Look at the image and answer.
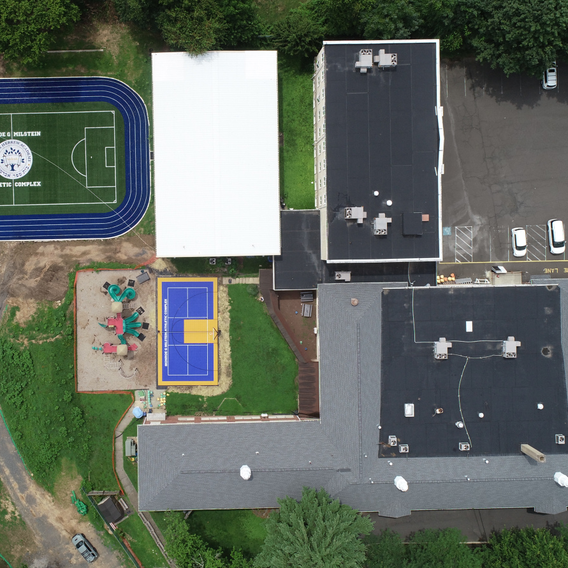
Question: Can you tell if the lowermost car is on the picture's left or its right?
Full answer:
The lowermost car is on the left side of the image.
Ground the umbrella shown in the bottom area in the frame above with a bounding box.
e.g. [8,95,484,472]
[131,404,146,418]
